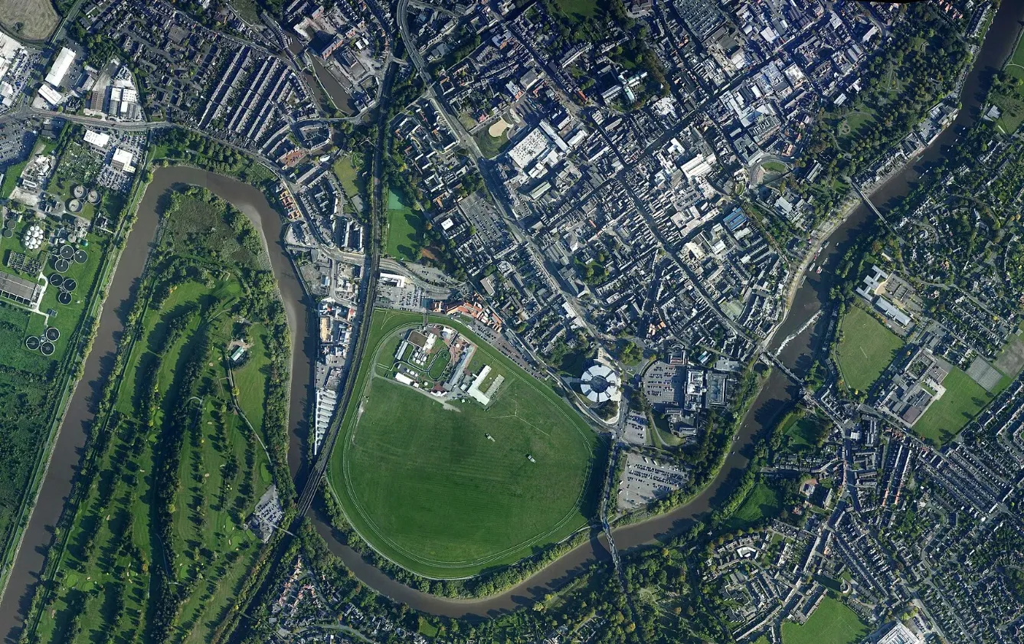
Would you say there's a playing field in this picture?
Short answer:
Yes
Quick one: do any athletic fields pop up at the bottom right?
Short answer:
Yes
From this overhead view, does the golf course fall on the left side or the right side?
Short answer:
left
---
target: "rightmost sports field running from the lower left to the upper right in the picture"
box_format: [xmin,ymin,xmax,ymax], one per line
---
[912,366,1023,444]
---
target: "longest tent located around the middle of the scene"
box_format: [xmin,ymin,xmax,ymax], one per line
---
[468,365,491,405]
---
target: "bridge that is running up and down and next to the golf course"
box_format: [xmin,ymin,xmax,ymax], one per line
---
[294,75,392,516]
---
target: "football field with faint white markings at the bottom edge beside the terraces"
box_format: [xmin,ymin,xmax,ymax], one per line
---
[782,593,868,644]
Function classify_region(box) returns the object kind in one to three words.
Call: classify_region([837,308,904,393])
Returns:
sports field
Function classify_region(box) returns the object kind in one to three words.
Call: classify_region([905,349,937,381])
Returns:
building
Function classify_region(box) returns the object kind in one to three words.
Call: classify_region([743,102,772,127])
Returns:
building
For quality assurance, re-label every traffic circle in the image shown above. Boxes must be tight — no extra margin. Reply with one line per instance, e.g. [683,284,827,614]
[612,335,651,377]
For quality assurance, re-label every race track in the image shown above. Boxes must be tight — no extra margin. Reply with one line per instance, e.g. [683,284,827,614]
[326,308,606,578]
